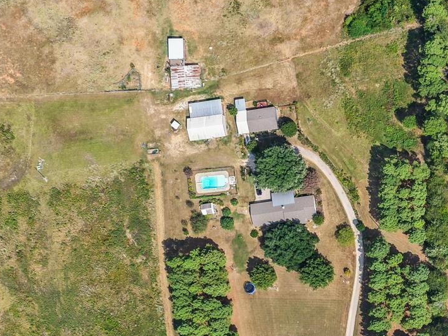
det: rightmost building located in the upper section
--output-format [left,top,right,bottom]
[246,106,279,132]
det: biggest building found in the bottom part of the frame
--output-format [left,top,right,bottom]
[249,189,317,225]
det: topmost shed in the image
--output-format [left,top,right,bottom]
[167,37,188,60]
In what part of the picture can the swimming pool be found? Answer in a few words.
center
